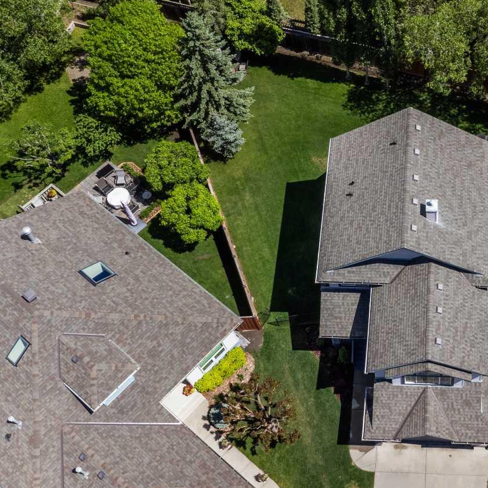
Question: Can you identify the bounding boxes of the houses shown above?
[313,108,488,448]
[0,191,255,488]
